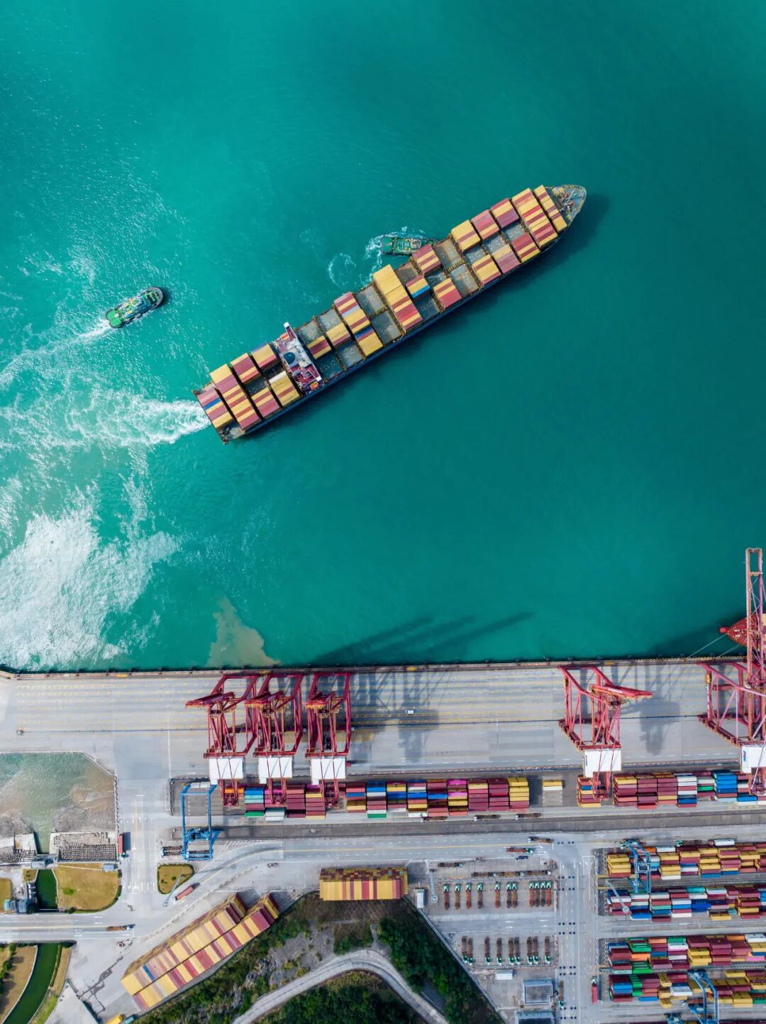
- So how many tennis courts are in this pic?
0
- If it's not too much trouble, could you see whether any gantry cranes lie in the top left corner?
No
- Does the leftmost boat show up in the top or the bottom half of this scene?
top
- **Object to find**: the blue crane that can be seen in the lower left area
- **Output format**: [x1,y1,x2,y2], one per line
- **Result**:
[179,784,220,860]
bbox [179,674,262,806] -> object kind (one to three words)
container crane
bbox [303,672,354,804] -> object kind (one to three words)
container crane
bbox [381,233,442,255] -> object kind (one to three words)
boat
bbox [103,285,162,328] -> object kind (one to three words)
boat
